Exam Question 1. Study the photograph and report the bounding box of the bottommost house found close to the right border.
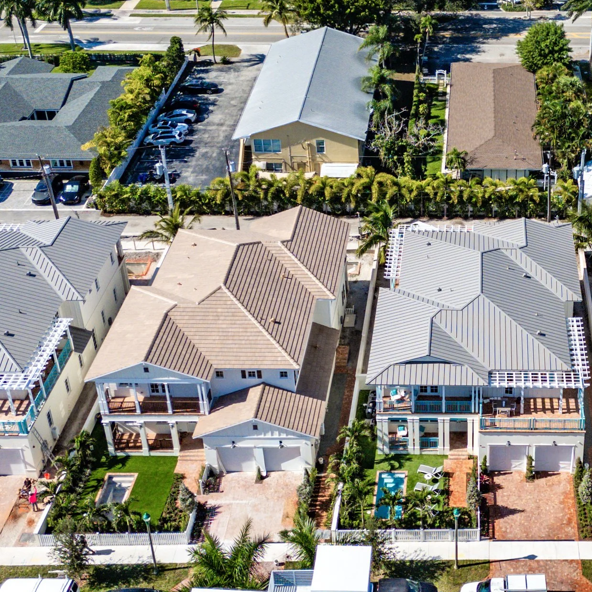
[364,216,592,473]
